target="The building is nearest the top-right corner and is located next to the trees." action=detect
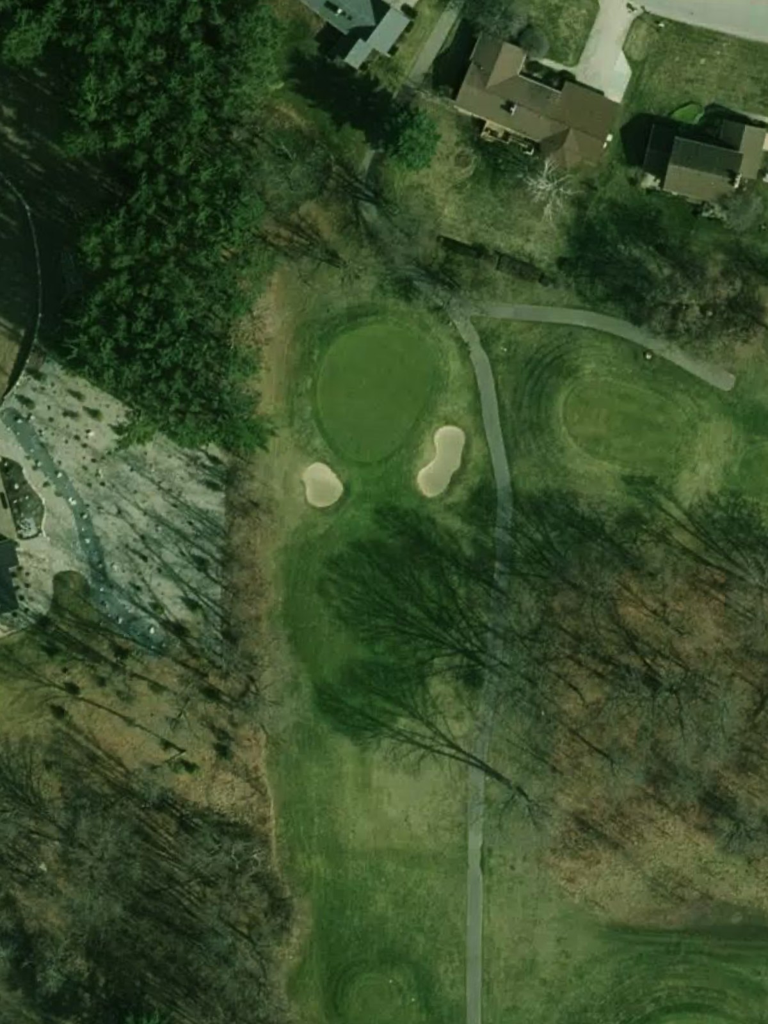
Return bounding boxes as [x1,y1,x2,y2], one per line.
[640,120,768,208]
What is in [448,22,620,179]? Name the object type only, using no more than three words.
house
